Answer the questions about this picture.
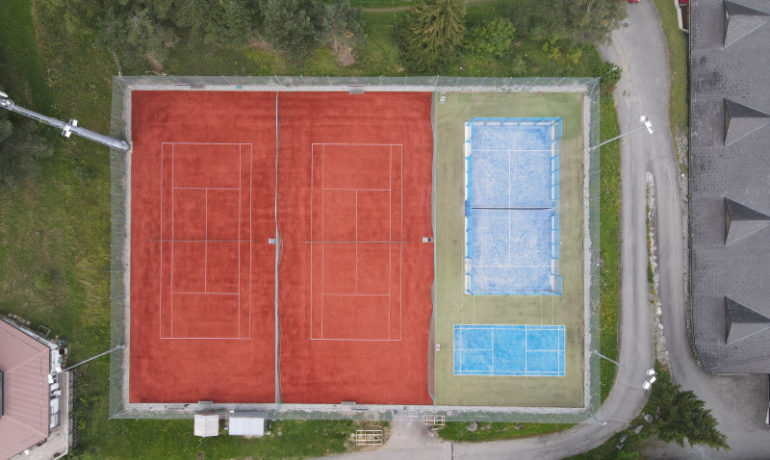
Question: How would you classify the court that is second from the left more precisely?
tennis court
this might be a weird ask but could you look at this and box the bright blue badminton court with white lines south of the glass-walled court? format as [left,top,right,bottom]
[454,325,565,377]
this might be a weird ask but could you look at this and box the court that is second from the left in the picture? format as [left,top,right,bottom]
[277,91,433,404]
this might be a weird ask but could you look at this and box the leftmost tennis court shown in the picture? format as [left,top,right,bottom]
[129,91,278,404]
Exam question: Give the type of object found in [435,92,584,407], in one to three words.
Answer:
sports court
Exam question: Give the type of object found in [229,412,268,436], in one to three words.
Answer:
shed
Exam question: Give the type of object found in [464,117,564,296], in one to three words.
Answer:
sports court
